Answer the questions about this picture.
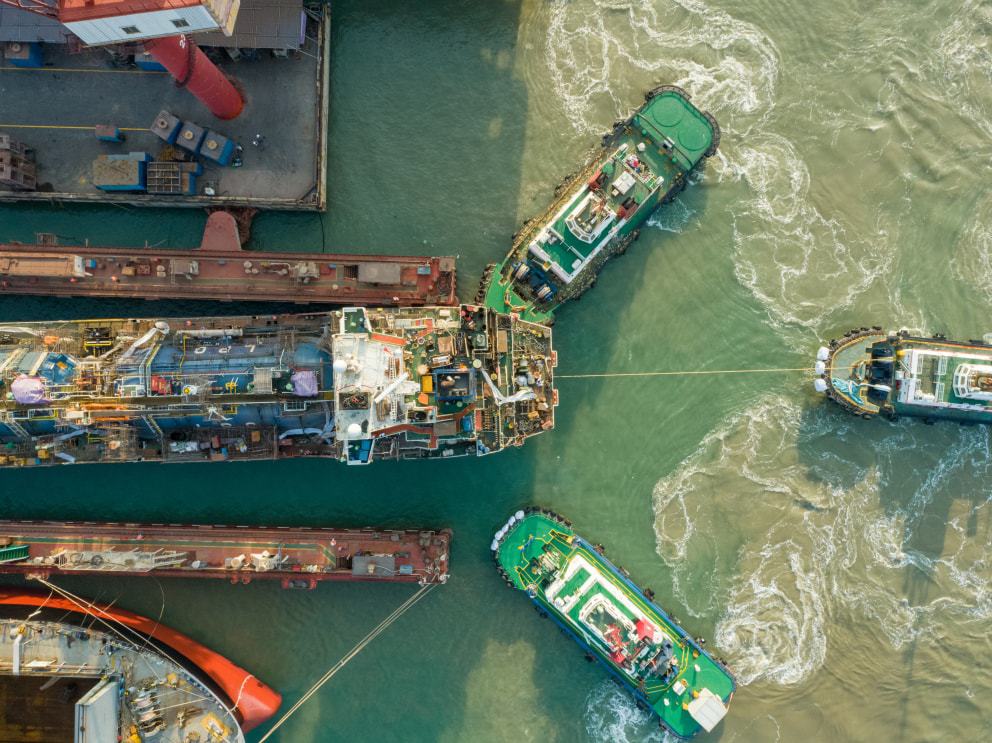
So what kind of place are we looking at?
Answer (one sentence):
The picture captures a port.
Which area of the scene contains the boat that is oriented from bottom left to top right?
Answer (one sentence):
The boat that is oriented from bottom left to top right sits in the top section of the image.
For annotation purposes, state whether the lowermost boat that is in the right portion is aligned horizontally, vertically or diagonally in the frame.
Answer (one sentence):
What the image shows is the lowermost boat that is in the right portion lying diagonally.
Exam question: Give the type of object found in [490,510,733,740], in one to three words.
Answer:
boat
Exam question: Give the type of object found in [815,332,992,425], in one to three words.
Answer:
boat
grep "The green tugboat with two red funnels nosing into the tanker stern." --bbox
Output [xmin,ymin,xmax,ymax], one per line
[476,80,719,325]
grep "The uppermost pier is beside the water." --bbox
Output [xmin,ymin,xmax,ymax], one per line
[0,0,330,207]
